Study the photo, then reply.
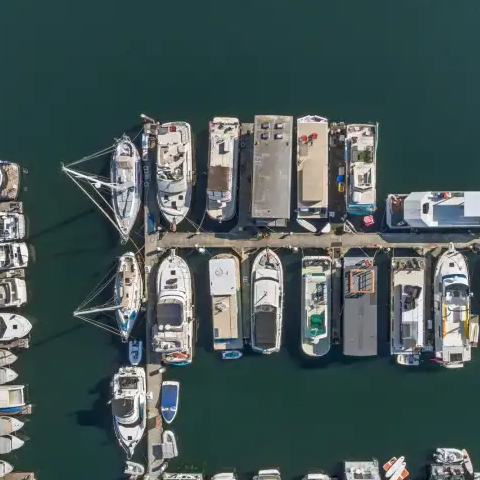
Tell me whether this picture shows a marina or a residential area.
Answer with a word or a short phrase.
marina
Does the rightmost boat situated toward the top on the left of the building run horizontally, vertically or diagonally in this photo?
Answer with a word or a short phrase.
vertically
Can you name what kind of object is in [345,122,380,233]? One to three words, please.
boat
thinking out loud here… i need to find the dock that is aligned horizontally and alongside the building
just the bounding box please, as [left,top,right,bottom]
[157,233,480,247]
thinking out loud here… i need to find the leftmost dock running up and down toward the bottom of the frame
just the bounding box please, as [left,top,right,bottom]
[145,232,163,480]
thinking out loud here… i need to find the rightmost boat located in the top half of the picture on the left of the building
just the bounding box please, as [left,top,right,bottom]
[199,117,242,233]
